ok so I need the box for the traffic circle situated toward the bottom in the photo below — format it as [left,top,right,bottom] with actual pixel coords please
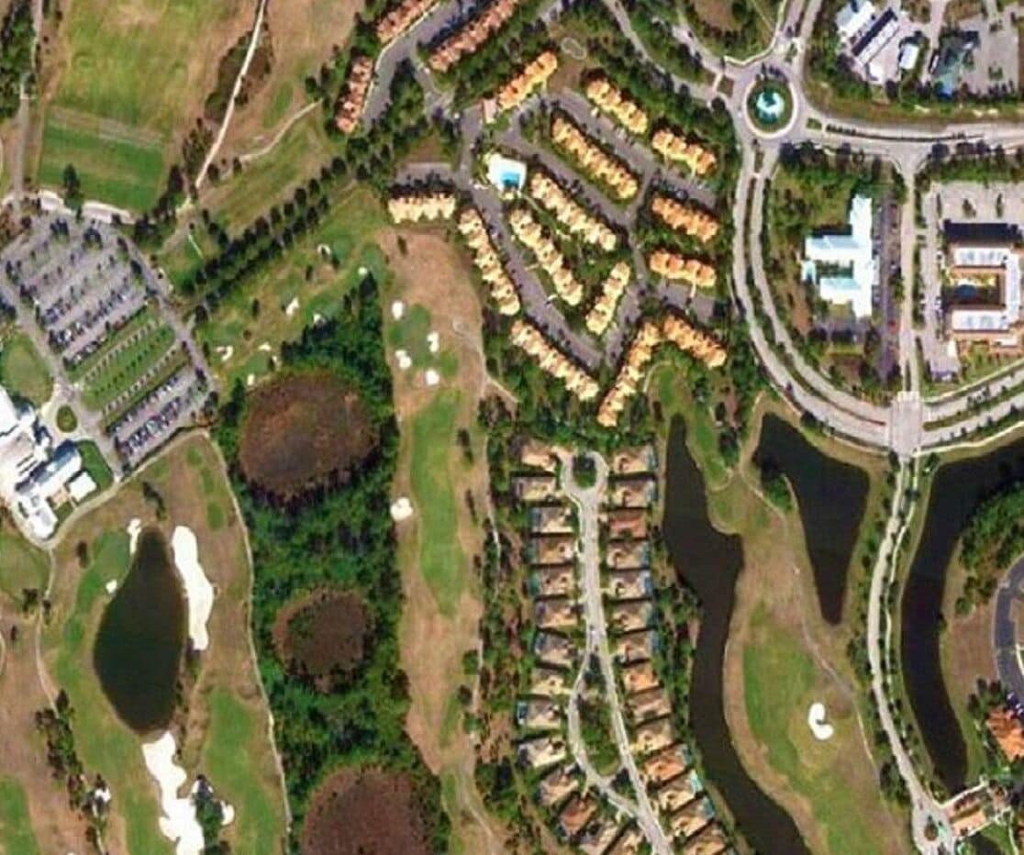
[911,794,954,855]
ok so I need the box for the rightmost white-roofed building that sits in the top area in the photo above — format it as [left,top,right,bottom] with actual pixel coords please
[949,243,1024,348]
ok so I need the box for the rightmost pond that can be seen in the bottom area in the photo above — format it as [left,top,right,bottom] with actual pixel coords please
[754,411,869,626]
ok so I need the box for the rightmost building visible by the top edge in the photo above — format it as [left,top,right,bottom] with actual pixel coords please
[929,30,976,97]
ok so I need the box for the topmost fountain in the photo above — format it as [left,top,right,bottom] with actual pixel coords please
[757,91,785,120]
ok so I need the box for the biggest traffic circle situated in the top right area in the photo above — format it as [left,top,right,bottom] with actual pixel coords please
[718,43,821,147]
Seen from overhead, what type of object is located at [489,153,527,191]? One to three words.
swimming pool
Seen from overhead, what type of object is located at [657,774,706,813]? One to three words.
house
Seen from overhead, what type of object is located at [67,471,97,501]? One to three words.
building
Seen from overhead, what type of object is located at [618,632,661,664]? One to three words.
house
